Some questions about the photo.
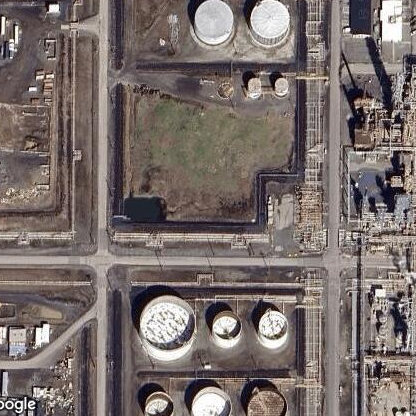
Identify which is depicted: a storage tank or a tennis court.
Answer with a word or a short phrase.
storage tank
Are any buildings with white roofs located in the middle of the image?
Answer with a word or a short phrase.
No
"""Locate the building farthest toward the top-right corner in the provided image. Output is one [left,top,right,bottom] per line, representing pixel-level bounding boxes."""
[380,0,401,46]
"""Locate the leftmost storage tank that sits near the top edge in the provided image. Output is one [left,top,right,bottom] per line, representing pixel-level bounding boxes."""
[192,0,236,47]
